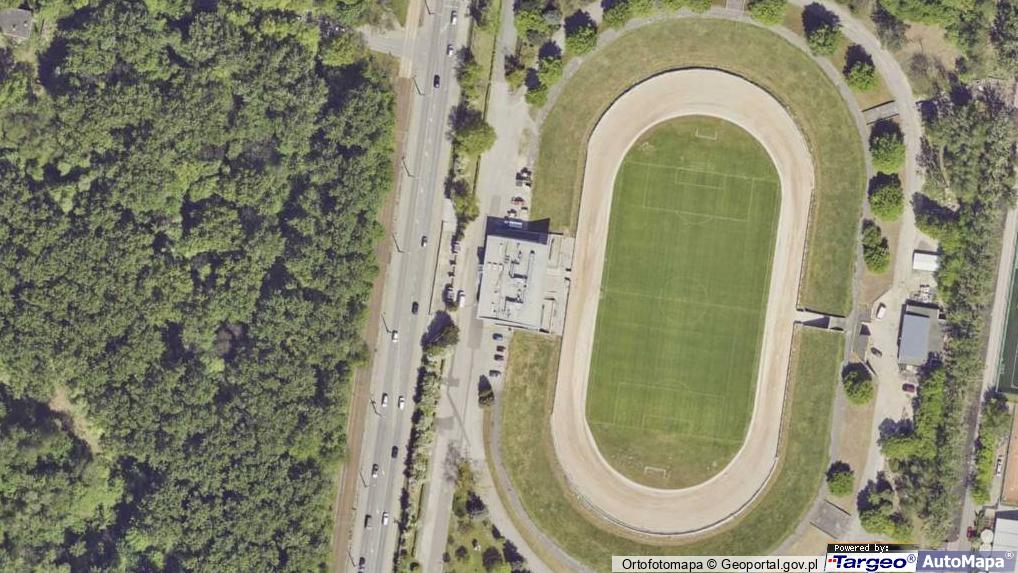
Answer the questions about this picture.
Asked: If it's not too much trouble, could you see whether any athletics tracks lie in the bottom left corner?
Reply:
No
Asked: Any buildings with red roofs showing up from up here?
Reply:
No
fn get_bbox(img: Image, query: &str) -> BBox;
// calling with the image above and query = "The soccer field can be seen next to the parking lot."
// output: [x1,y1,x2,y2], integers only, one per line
[586,115,781,488]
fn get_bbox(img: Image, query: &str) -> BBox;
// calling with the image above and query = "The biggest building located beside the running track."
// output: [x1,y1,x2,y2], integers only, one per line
[477,234,546,329]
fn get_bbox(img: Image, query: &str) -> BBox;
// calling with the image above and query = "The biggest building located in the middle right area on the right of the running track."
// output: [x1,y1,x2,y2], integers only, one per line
[898,304,943,376]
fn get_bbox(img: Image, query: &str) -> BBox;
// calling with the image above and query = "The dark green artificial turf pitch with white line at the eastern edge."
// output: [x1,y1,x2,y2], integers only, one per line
[996,258,1018,393]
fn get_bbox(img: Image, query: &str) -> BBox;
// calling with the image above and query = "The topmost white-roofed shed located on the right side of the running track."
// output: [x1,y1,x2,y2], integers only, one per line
[913,252,939,272]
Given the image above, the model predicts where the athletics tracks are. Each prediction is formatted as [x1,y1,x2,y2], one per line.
[551,67,814,537]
